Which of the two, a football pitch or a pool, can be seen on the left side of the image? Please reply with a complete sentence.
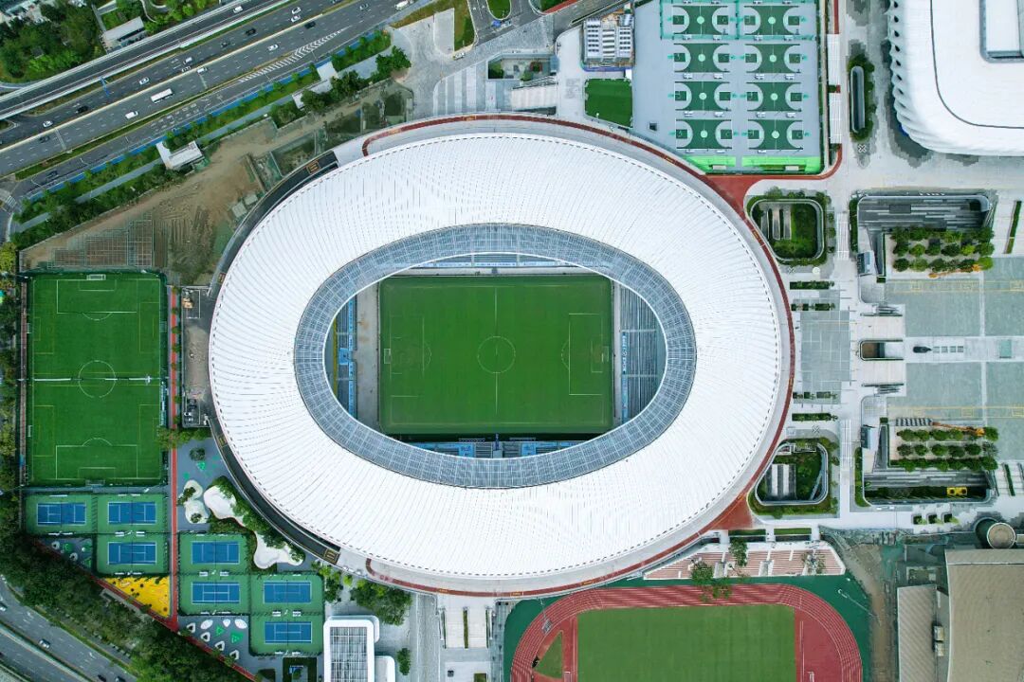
Looking on the left side of the image, you will find a football pitch.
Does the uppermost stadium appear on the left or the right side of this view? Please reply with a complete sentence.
The uppermost stadium appears in the right half of the scene.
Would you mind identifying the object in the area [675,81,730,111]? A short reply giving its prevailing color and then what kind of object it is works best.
green basketball court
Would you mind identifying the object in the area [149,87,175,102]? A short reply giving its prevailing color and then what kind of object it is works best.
white vehicle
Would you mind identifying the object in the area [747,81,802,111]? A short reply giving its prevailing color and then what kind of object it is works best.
green basketball court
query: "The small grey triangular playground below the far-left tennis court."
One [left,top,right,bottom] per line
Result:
[39,536,92,572]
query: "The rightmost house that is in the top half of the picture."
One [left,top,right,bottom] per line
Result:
[854,251,873,275]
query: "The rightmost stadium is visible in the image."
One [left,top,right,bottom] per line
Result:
[891,0,1024,152]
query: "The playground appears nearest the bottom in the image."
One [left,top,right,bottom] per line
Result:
[178,617,259,677]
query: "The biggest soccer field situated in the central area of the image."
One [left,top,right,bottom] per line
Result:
[378,275,612,434]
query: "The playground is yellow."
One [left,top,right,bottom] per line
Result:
[104,576,170,619]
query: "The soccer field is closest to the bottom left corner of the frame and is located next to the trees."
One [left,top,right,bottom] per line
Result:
[25,273,162,486]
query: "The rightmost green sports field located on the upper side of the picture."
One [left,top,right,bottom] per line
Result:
[585,78,632,127]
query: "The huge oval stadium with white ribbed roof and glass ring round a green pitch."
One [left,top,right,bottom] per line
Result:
[210,132,779,579]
